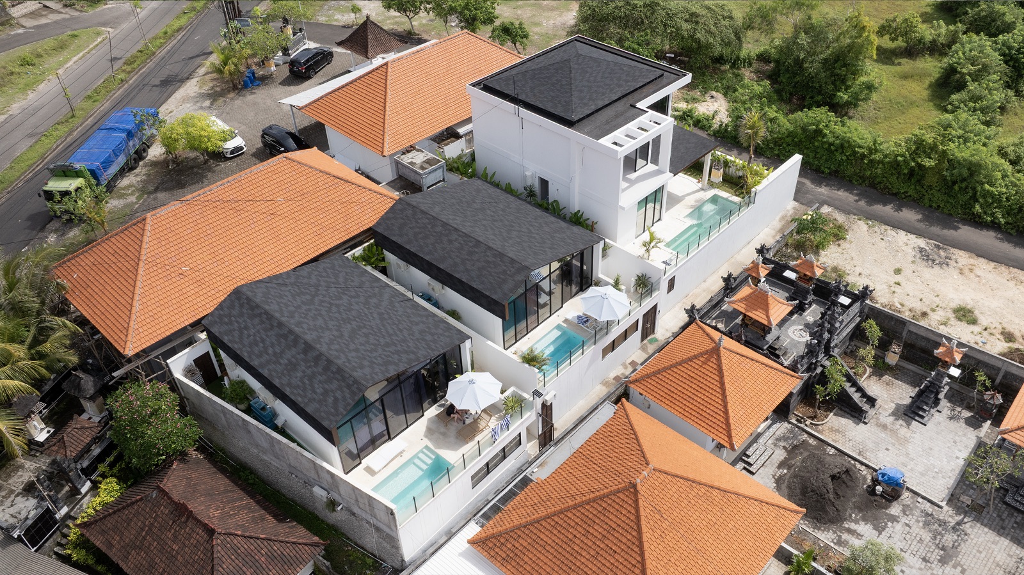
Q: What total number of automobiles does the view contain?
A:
three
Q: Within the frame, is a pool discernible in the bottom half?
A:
Yes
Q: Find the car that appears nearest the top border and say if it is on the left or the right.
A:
left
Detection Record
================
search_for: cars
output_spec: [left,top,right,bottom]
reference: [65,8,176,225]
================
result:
[260,121,312,161]
[203,114,246,159]
[287,46,333,77]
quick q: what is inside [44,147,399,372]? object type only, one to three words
house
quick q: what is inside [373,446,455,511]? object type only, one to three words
swimming pool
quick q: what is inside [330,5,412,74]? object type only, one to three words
building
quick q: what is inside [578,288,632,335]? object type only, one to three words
umbrella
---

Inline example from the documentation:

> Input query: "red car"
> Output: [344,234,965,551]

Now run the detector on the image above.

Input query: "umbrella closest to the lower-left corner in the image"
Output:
[441,371,505,417]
